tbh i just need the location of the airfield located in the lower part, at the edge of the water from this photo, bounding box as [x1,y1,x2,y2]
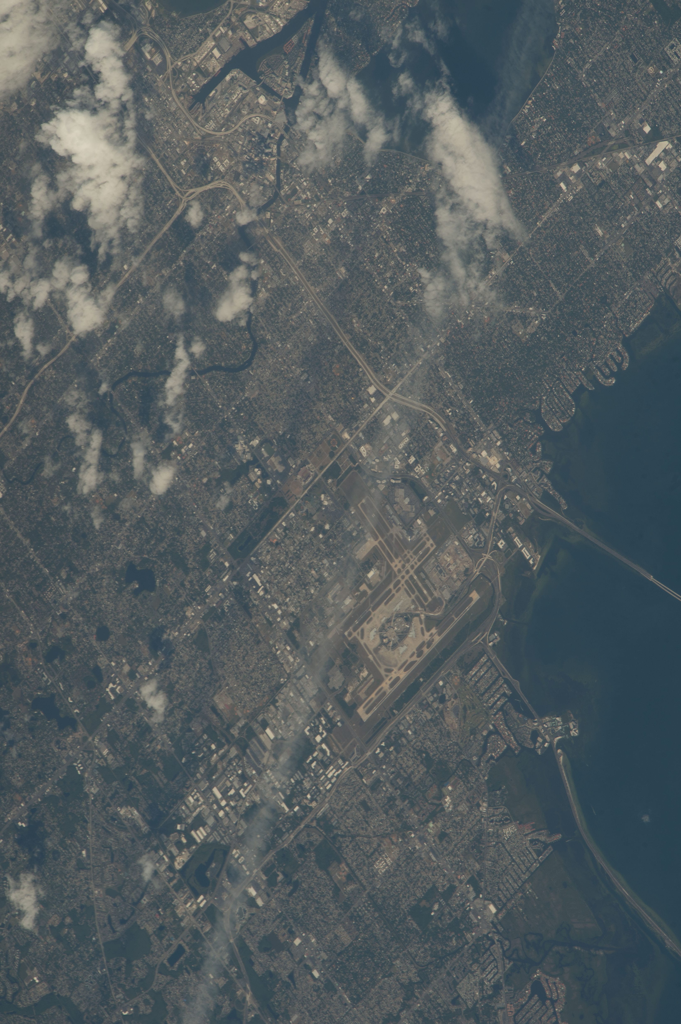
[332,496,485,752]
